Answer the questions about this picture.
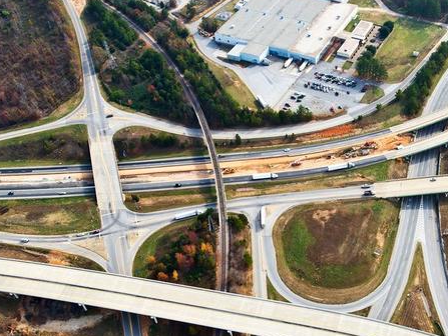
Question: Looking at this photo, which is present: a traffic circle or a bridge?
bridge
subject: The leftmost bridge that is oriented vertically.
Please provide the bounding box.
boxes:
[88,138,125,207]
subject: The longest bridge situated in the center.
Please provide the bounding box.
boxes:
[195,111,228,222]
